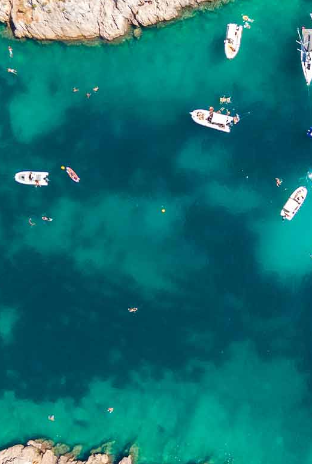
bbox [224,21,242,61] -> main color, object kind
white boat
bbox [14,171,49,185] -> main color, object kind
white boat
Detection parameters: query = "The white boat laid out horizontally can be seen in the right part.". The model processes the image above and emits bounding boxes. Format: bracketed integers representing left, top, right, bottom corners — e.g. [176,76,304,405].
[185,109,234,131]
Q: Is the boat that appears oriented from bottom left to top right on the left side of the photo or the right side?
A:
right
